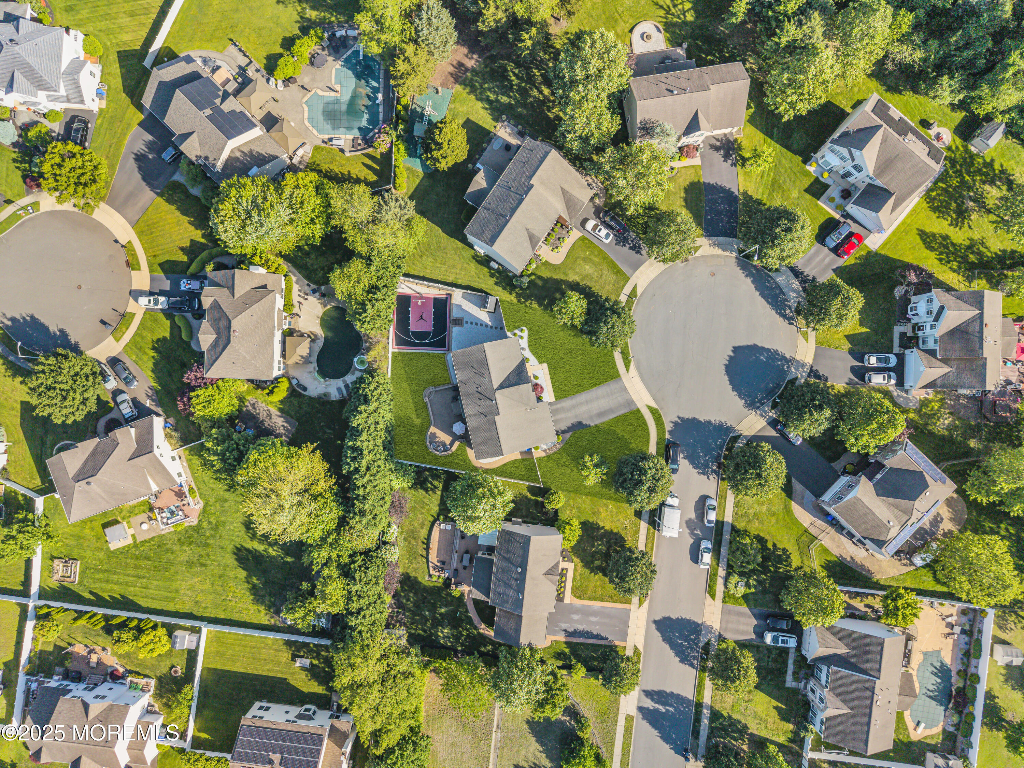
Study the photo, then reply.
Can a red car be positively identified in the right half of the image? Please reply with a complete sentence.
Yes, the scene does show a red car in the right half of the image.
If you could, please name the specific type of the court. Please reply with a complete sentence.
It turns out the court is a basketball court.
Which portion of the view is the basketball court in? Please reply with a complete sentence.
Look in the center portion of the view to spot the basketball court.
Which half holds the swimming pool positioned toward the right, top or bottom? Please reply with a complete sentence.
The swimming pool positioned toward the right sits in the bottom half of the picture.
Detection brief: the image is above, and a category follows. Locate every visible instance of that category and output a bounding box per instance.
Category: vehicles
[764,631,798,648]
[70,118,90,147]
[864,371,896,386]
[774,424,803,447]
[583,219,615,243]
[667,443,683,474]
[663,493,685,542]
[765,614,792,631]
[697,539,713,569]
[177,277,208,292]
[95,359,120,391]
[703,497,719,527]
[167,295,200,310]
[115,392,139,422]
[836,233,864,260]
[823,219,853,250]
[864,353,897,367]
[112,360,139,390]
[137,295,167,309]
[159,141,185,164]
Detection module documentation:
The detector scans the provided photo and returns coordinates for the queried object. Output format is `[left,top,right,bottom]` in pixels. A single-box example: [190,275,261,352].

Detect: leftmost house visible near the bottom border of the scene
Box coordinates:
[20,680,162,768]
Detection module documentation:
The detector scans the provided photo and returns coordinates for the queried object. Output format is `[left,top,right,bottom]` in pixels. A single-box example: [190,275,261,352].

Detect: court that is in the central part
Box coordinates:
[393,293,450,350]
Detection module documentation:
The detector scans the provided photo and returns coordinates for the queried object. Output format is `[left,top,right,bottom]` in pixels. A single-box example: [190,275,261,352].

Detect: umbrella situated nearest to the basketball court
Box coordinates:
[453,421,466,435]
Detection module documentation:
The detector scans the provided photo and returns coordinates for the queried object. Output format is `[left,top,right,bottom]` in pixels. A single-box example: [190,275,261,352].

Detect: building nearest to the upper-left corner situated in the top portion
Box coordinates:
[0,3,101,113]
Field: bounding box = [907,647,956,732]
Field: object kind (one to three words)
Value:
swimming pool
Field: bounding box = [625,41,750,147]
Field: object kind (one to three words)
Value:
house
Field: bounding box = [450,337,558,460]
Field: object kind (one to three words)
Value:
house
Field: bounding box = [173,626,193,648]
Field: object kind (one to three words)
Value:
shed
